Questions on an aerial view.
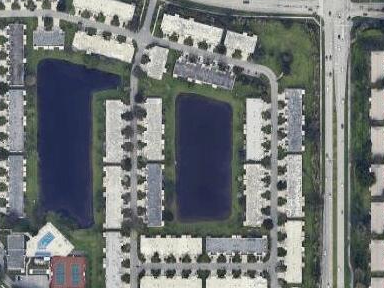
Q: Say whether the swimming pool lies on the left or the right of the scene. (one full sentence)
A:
The swimming pool appears in the left half of the scene.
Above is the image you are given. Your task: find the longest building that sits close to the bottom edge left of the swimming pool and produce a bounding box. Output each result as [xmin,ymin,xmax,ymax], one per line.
[7,234,24,274]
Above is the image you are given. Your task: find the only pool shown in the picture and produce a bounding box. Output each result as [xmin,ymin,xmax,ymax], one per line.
[26,223,73,257]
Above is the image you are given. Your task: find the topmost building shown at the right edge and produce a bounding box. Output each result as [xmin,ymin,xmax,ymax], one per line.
[369,52,384,82]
